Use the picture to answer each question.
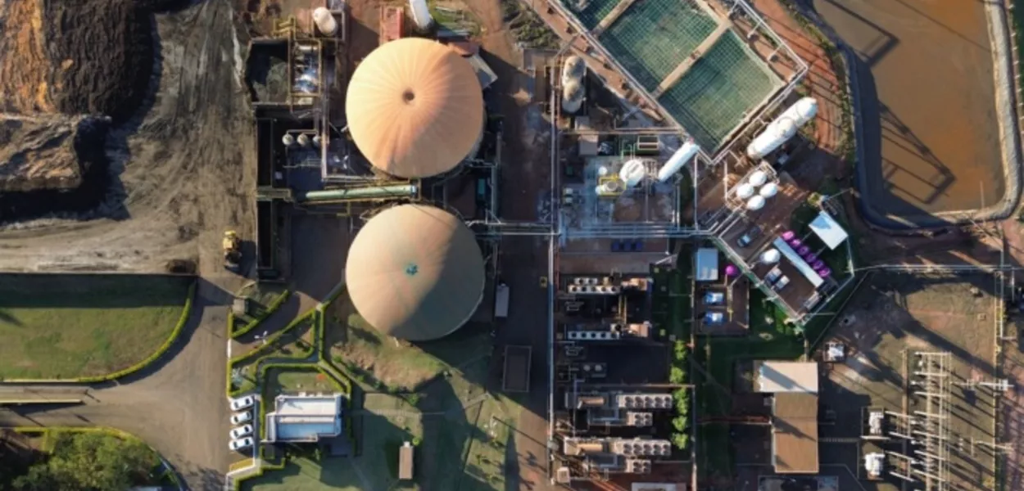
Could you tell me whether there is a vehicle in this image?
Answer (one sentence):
Yes, the frame does contain a vehicle.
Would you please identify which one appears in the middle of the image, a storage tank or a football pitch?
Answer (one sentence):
It is a storage tank that can be seen in the middle of the image.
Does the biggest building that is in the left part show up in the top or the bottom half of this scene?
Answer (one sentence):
The biggest building that is in the left part sits in the bottom half of the picture.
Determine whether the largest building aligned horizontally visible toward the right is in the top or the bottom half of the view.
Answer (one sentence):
It is in the bottom half that the largest building aligned horizontally visible toward the right appears.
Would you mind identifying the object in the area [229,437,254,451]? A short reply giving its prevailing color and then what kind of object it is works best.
white car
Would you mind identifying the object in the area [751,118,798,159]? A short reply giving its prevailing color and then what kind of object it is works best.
white storage tank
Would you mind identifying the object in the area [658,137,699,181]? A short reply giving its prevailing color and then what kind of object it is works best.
white storage tank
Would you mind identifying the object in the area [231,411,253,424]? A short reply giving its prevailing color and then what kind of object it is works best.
white vehicle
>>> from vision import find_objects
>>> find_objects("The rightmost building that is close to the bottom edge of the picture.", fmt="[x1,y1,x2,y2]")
[769,392,818,473]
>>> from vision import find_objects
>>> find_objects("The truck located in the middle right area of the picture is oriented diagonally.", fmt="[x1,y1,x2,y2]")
[734,225,760,249]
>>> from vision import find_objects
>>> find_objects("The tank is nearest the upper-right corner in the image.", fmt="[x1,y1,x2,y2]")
[770,99,817,130]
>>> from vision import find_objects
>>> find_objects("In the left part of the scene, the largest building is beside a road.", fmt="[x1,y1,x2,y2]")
[265,390,347,443]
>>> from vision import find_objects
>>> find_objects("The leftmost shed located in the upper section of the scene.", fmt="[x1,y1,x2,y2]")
[326,88,342,126]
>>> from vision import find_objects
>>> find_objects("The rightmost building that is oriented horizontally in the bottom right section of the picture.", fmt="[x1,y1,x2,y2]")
[750,362,819,392]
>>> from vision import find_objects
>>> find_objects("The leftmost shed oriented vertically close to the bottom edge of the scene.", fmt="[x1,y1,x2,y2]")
[398,445,414,480]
